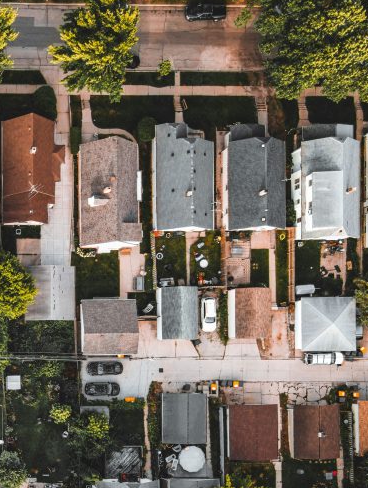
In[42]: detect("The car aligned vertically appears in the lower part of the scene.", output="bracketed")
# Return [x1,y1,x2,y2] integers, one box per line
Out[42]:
[200,297,218,333]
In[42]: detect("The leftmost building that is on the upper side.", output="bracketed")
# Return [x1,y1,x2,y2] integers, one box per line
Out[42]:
[1,113,65,233]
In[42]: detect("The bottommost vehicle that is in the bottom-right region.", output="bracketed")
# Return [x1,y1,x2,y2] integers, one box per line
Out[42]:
[304,351,343,368]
